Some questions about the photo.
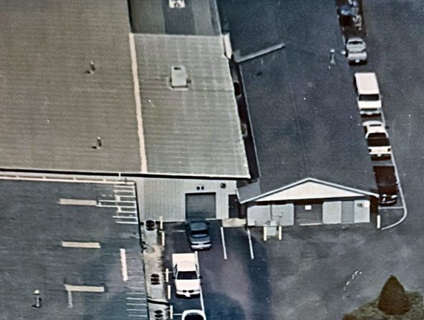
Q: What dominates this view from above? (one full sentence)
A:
The bulk of the photo consists of buildings.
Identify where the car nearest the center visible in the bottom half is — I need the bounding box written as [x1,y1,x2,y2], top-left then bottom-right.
[183,216,209,247]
